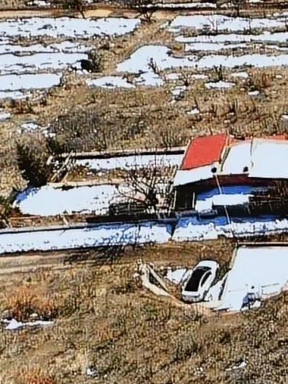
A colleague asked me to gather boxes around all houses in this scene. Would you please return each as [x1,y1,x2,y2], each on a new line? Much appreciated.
[173,132,288,207]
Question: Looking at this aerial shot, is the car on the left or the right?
right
